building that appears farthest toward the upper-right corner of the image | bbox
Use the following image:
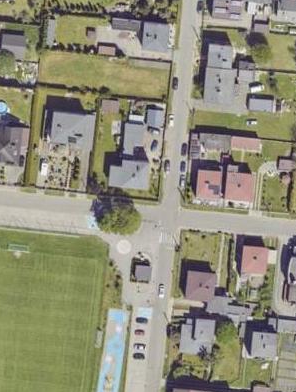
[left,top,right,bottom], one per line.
[275,0,296,26]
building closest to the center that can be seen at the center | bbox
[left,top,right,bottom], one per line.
[109,163,150,189]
